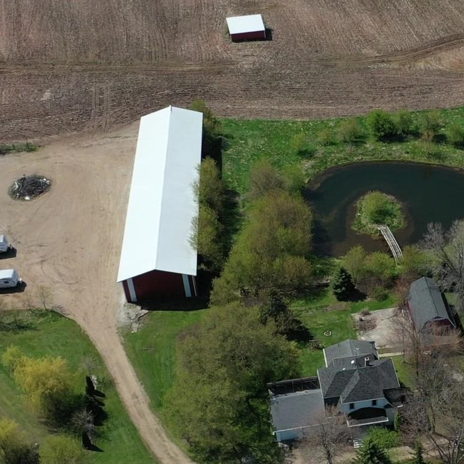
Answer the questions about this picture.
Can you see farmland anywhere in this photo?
Yes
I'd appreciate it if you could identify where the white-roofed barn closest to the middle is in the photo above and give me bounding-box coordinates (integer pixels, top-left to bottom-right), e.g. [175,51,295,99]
[111,106,205,323]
